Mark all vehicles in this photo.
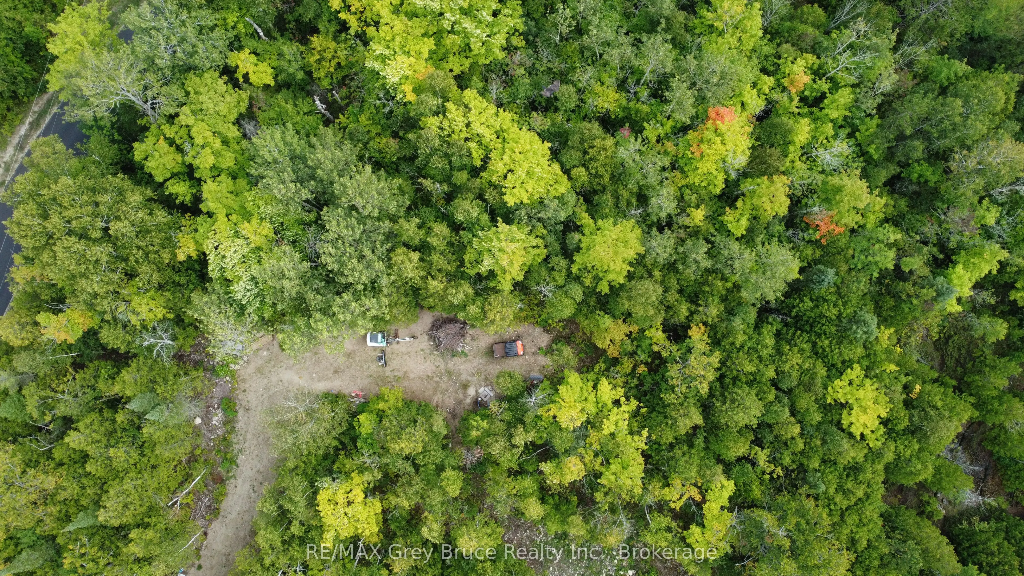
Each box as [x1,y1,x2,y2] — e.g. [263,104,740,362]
[368,329,414,346]
[492,339,525,358]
